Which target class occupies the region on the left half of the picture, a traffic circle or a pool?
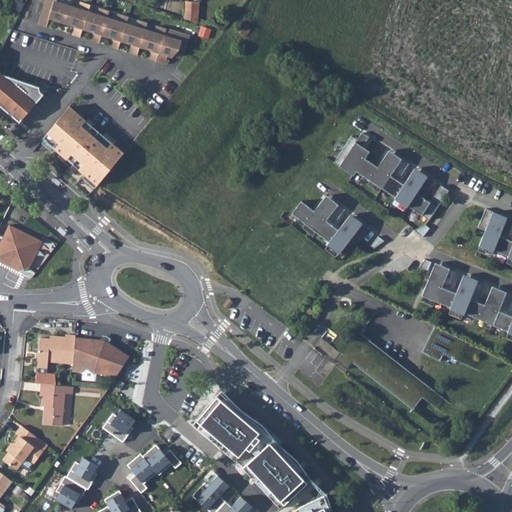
traffic circle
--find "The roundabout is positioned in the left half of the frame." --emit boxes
[90,239,204,345]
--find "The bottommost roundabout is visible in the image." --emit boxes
[381,469,512,512]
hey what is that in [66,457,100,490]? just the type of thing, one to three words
house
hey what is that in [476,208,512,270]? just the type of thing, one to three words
building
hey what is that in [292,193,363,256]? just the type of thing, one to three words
building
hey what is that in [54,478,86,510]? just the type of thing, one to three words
house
